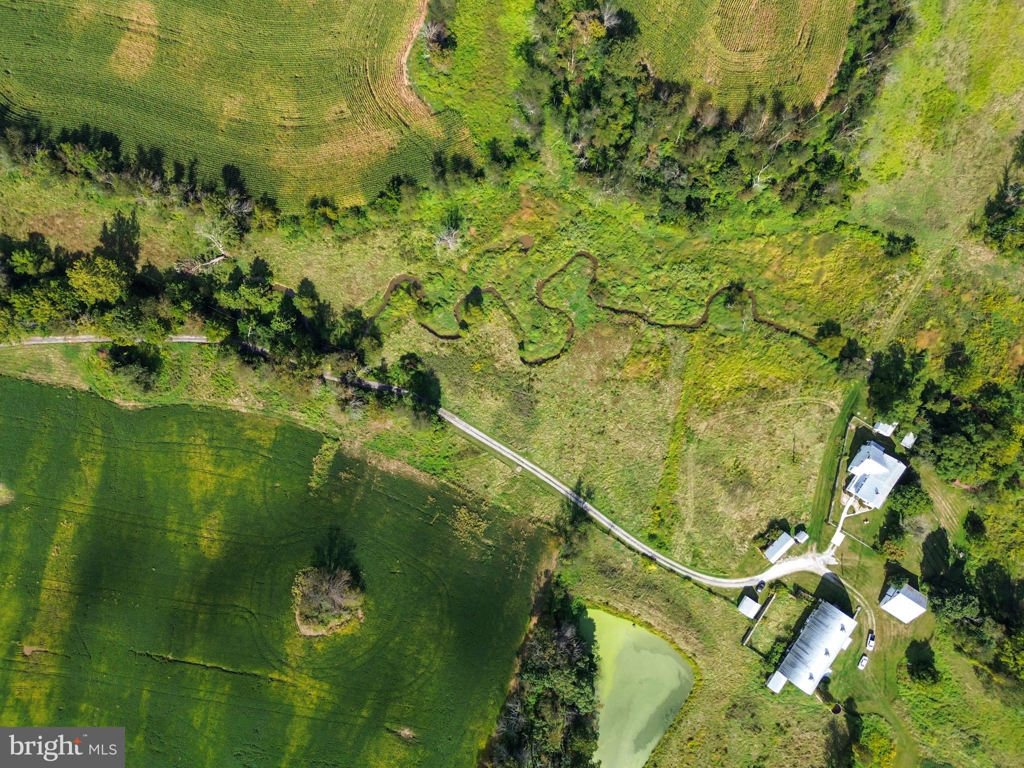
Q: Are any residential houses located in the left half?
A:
No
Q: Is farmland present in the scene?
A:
Yes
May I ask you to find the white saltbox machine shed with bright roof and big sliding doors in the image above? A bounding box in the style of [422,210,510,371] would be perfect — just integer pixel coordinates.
[877,579,928,623]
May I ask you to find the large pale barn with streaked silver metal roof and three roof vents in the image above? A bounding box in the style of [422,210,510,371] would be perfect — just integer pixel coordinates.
[766,597,857,693]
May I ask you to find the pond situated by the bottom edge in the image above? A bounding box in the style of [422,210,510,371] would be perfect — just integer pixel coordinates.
[575,606,695,768]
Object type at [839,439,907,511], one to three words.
house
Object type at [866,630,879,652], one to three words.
vehicle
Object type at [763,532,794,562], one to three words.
shed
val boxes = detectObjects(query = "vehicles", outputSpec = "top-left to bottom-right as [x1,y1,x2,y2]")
[866,630,879,652]
[857,654,870,673]
[756,580,765,593]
